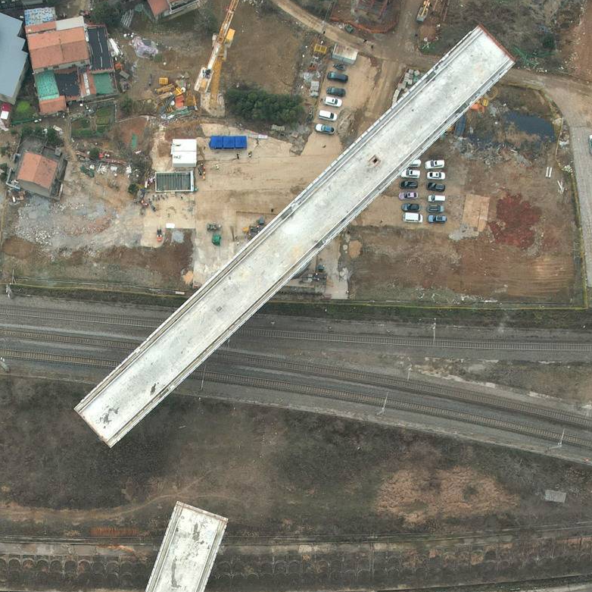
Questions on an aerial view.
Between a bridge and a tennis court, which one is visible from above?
bridge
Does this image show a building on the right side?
No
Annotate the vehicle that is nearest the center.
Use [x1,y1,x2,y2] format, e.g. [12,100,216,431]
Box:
[245,215,266,234]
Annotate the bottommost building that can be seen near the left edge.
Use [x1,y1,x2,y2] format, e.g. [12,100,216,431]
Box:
[18,151,59,193]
